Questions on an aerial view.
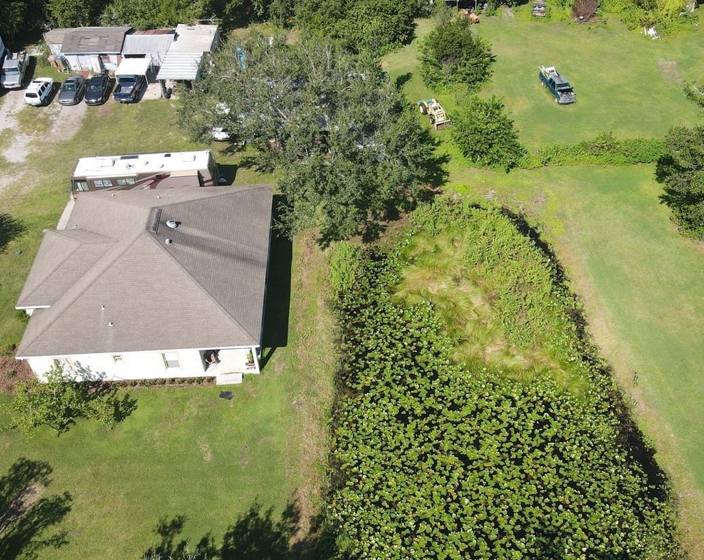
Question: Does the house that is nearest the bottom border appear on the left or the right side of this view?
left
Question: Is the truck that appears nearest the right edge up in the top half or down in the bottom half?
top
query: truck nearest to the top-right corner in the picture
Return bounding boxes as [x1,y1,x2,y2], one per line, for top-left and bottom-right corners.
[537,64,579,102]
